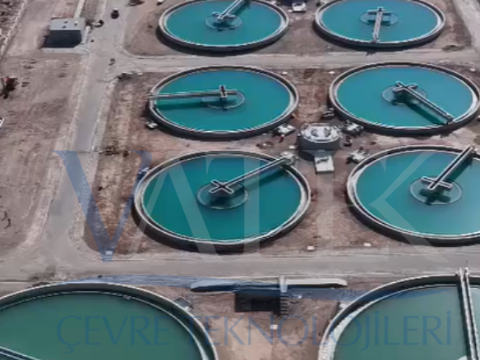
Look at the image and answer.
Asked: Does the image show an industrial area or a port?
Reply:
industrial area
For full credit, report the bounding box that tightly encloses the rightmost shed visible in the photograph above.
[43,18,91,47]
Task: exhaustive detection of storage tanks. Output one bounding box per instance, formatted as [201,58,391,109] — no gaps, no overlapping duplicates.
[317,274,480,360]
[148,65,298,140]
[346,146,480,247]
[0,283,216,360]
[159,0,288,52]
[315,0,445,50]
[328,61,480,136]
[134,150,310,252]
